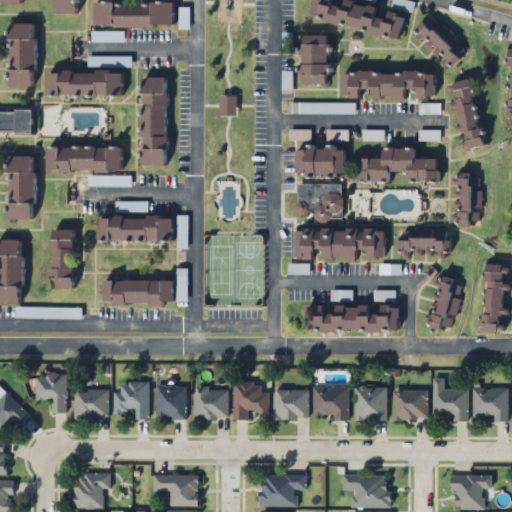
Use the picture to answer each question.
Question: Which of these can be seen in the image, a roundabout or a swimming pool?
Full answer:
Looking from above, you can make out a swimming pool.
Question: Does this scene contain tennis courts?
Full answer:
Yes, the picture does show a tennis court.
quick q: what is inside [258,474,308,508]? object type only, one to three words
house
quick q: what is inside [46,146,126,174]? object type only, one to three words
building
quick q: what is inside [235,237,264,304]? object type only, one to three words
basketball court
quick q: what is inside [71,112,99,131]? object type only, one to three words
swimming pool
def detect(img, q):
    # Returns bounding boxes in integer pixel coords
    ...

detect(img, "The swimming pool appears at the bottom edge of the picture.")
[496,492,512,508]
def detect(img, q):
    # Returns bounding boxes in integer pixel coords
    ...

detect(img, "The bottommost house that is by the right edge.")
[451,475,492,510]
